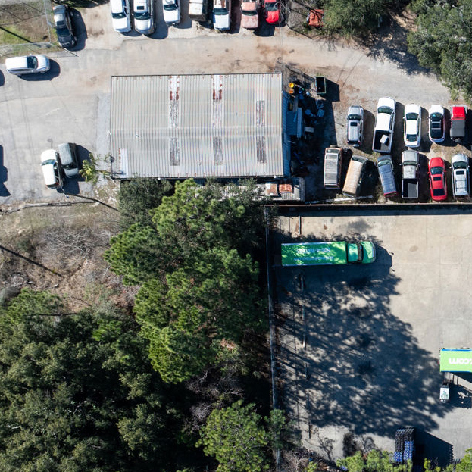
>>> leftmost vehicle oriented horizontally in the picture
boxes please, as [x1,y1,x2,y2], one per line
[7,54,52,75]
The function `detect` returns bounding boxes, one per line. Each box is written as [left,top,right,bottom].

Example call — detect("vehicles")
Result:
[159,0,183,27]
[448,154,470,199]
[37,149,66,192]
[261,0,282,26]
[7,54,52,75]
[448,106,467,144]
[56,142,84,180]
[427,157,447,202]
[131,0,155,37]
[370,97,395,155]
[344,106,364,148]
[341,155,369,198]
[427,105,446,144]
[402,104,422,149]
[109,0,132,34]
[238,0,261,31]
[209,0,232,32]
[439,373,451,406]
[321,146,343,192]
[374,155,399,199]
[53,5,78,50]
[399,150,420,200]
[435,347,472,374]
[186,0,209,25]
[309,11,337,28]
